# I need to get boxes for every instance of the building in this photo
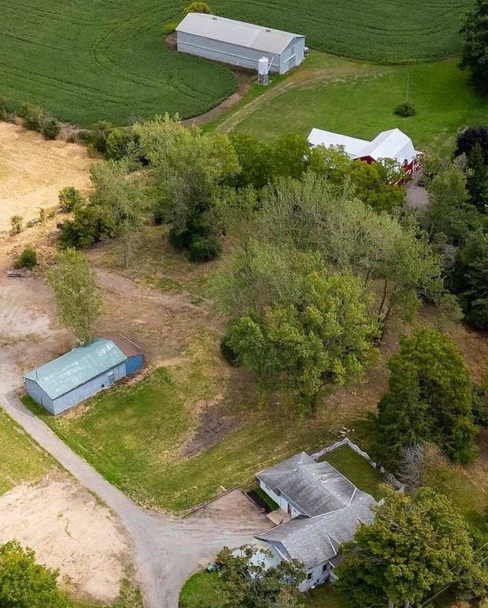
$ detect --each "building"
[298,129,431,180]
[175,12,308,75]
[22,338,144,417]
[253,452,377,589]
